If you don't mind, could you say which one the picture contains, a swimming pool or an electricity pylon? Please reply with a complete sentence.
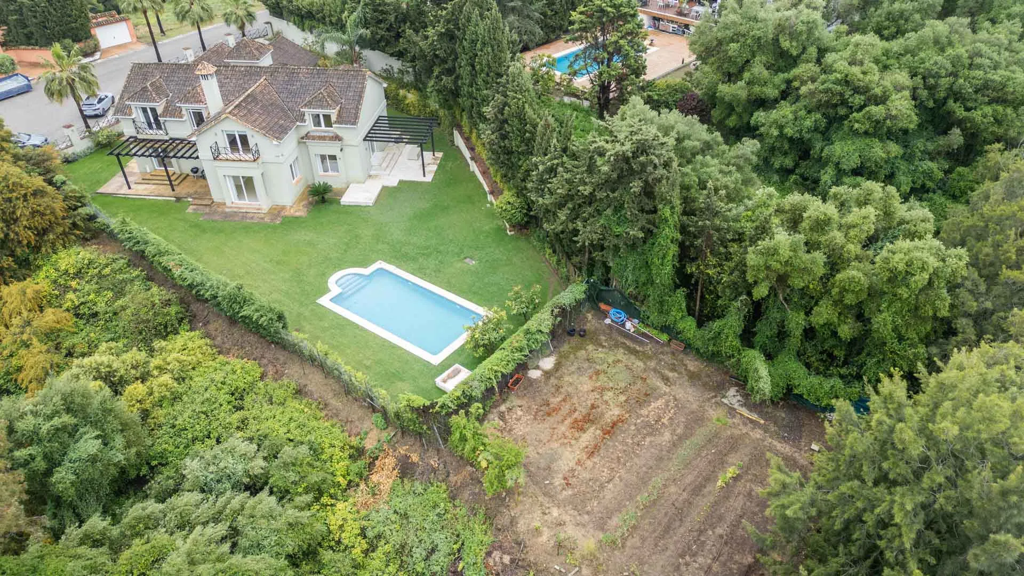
I can see a swimming pool in this picture.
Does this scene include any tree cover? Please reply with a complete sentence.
Yes, tree cover can be seen from above here.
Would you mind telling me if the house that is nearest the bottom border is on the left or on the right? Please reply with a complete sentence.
You can find the house that is nearest the bottom border on the left side of the picture.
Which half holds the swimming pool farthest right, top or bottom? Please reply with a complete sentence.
You can find the swimming pool farthest right in the top half.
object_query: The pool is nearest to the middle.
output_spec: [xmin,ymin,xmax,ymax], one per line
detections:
[317,261,488,364]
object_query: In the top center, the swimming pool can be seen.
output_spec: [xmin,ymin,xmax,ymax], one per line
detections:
[546,41,657,80]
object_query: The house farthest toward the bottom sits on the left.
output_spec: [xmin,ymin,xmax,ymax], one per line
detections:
[114,36,391,211]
